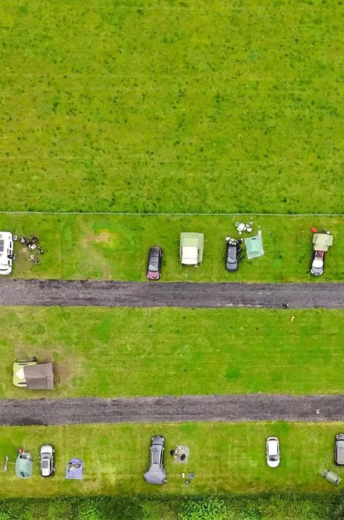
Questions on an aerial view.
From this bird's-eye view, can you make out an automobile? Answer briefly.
Yes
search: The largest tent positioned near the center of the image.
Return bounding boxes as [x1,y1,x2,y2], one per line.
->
[175,229,209,270]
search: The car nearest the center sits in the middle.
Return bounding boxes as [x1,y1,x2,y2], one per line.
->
[146,246,163,280]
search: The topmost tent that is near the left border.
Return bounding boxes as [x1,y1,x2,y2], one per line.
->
[10,361,40,388]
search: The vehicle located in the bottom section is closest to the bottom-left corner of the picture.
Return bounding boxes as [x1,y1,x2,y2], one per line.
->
[38,445,55,476]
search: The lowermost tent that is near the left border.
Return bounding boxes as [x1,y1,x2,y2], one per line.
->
[9,453,33,482]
